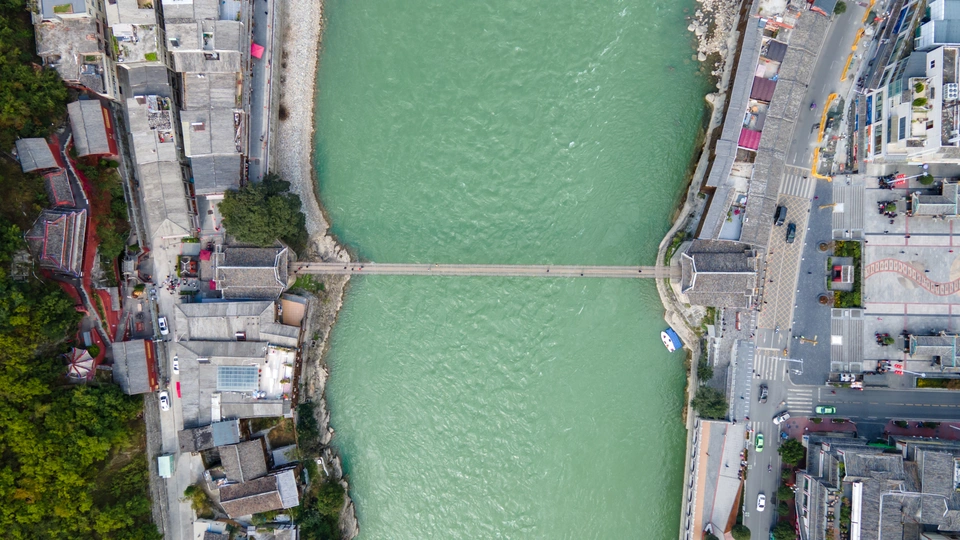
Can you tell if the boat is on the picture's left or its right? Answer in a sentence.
You can find the boat on the right side of the picture.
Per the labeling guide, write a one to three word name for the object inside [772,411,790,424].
vehicle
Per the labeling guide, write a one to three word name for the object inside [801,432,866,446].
building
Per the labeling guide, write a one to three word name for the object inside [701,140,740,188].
house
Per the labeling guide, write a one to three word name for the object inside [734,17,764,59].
house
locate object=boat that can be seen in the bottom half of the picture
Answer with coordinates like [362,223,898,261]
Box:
[663,329,683,352]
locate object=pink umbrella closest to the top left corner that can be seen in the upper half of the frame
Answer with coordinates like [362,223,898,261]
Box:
[249,43,264,58]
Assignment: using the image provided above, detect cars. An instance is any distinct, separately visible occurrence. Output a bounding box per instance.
[758,384,769,403]
[839,374,856,382]
[785,223,796,243]
[772,411,790,424]
[774,204,786,224]
[149,285,158,301]
[815,405,835,414]
[756,492,765,512]
[755,433,764,452]
[160,391,170,410]
[159,316,170,335]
